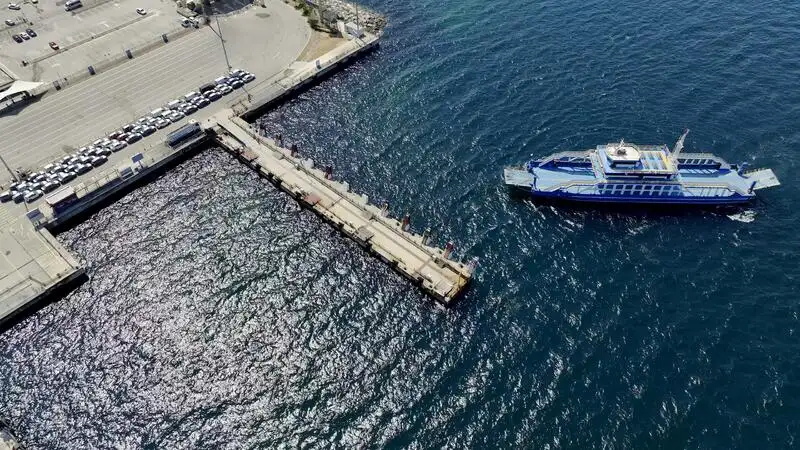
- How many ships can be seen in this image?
1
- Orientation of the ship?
horizontally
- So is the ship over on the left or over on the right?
right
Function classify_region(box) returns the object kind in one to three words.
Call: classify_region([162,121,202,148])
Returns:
bus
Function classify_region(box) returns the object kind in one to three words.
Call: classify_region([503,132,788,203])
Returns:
ship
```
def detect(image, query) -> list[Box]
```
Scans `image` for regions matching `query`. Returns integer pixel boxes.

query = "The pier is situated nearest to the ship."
[208,117,480,303]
